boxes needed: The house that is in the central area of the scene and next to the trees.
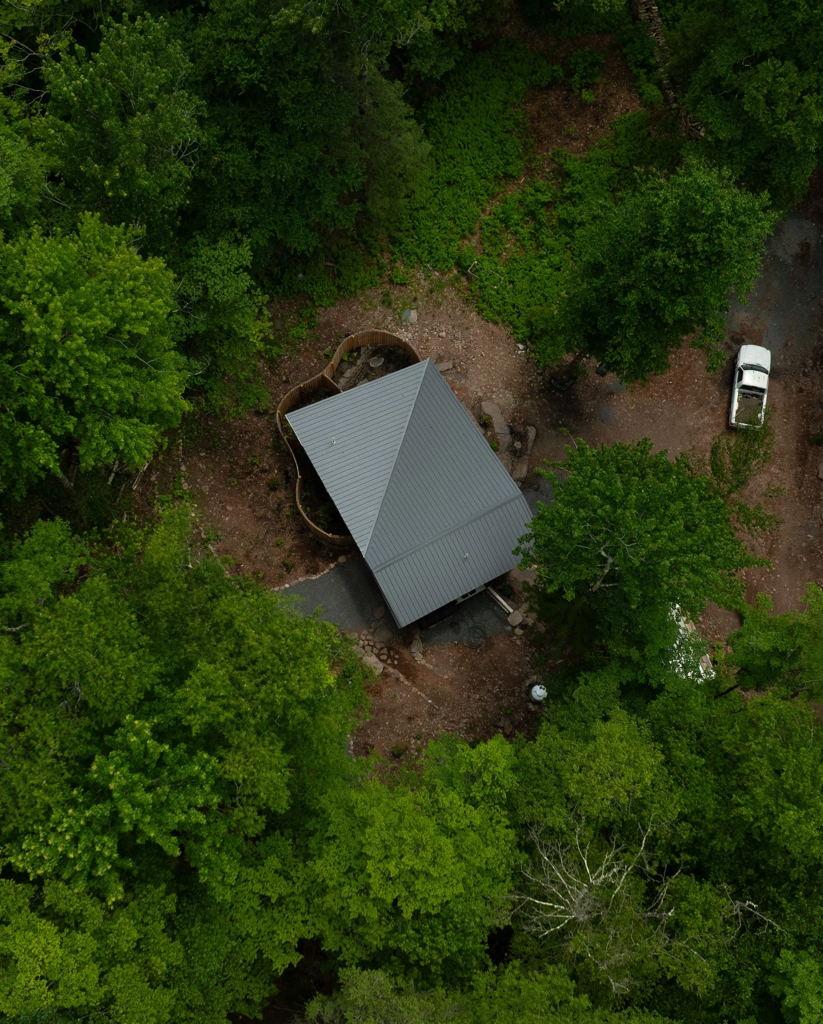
[287,357,548,629]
